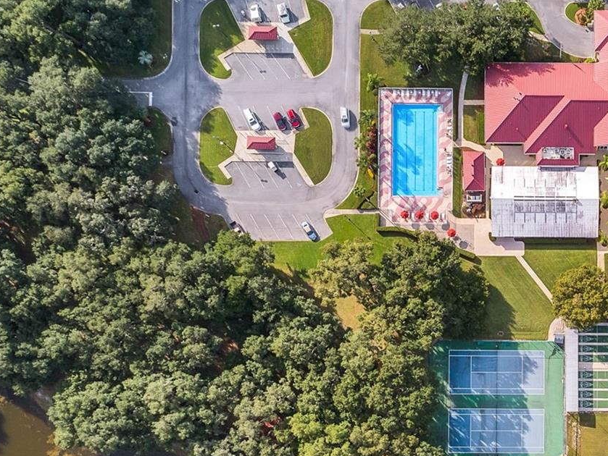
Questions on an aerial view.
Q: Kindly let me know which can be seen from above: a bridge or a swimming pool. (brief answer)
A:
swimming pool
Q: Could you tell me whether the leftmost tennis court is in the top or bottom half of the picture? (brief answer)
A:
bottom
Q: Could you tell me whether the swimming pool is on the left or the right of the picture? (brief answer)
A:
right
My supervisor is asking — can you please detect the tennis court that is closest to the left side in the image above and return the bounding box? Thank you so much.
[430,342,564,456]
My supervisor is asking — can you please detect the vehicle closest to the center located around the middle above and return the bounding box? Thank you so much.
[302,221,318,239]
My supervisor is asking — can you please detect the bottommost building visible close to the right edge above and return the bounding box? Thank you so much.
[489,166,600,238]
